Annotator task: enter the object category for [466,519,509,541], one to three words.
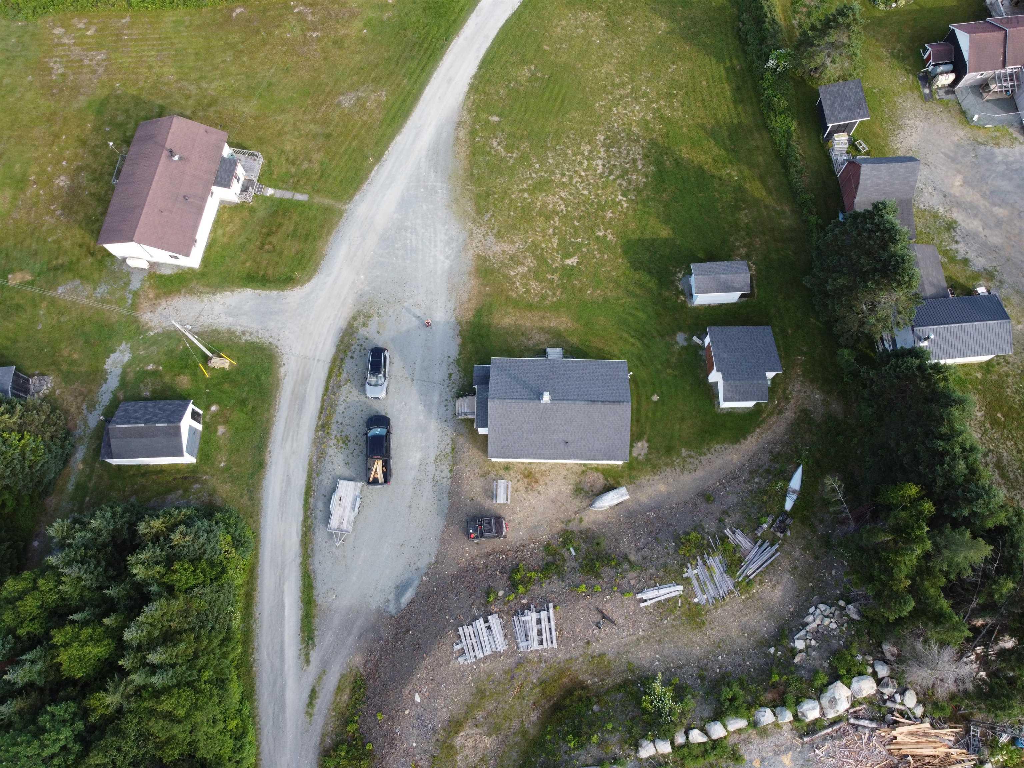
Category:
vehicle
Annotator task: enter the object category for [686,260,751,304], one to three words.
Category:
shed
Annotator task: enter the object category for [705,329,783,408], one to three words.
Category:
building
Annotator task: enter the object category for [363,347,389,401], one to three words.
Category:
car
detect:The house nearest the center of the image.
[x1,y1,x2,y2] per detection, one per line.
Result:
[473,357,633,465]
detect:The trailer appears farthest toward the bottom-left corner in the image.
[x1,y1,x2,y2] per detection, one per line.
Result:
[327,479,362,550]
